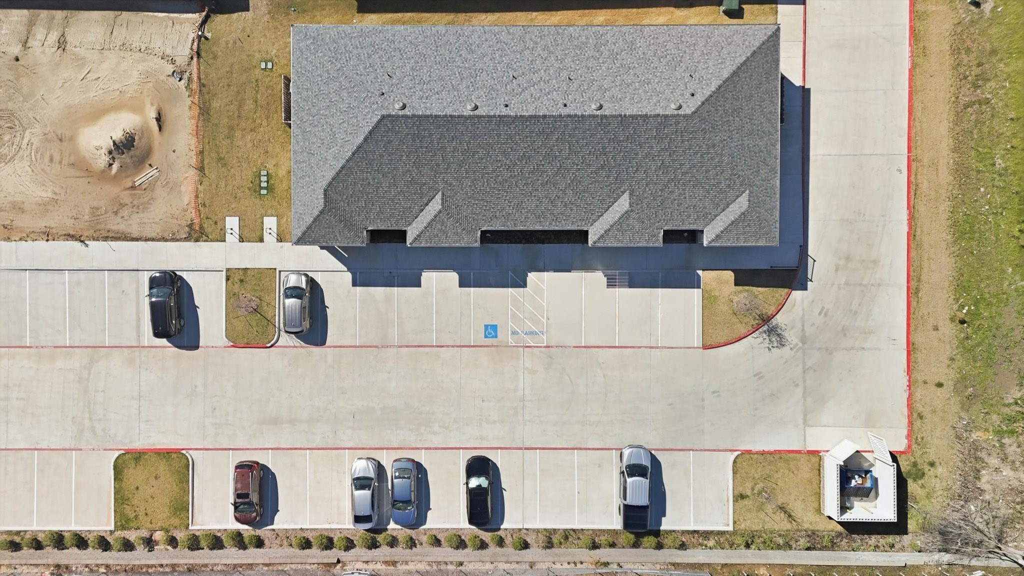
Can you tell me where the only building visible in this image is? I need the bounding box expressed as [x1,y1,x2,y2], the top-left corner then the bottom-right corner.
[290,23,781,247]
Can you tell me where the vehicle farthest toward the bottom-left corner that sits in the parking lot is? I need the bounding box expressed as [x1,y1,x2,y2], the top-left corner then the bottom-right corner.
[229,459,263,523]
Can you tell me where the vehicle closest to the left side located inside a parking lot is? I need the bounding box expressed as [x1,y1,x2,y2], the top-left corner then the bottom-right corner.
[144,271,184,338]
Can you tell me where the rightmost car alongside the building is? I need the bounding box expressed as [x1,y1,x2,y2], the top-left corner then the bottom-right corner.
[279,272,312,335]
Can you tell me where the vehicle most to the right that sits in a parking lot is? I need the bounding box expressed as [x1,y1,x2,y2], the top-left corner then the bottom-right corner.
[619,444,654,532]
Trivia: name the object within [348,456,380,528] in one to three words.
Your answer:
car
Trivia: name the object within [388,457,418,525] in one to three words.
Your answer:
car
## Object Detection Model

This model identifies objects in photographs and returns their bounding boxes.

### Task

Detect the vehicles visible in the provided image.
[462,454,493,527]
[229,459,263,523]
[619,444,654,532]
[279,272,312,335]
[388,457,418,525]
[348,456,380,528]
[144,271,184,338]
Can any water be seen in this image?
No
